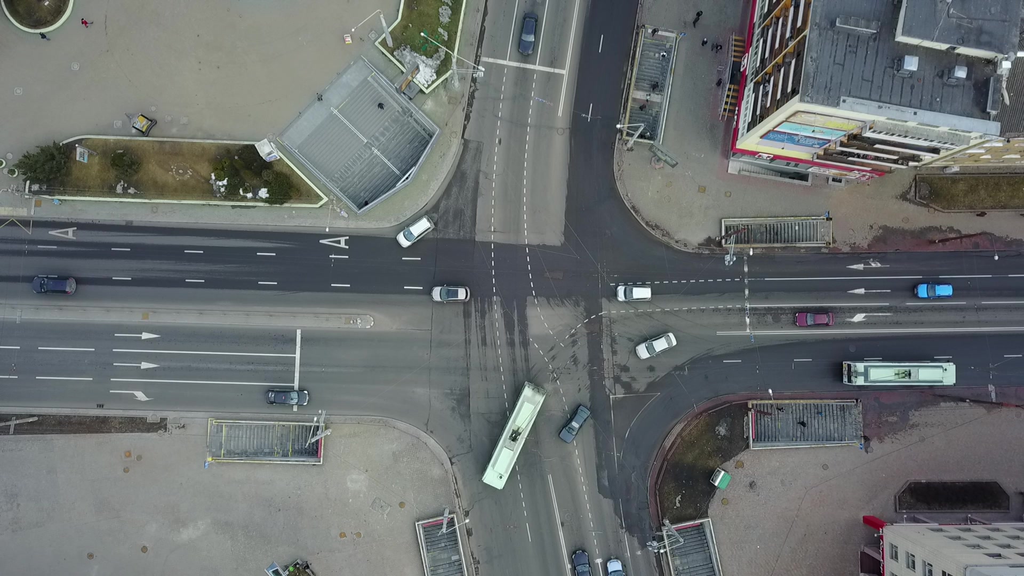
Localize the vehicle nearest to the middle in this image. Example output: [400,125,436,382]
[432,283,470,303]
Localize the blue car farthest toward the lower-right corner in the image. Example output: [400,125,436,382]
[912,281,952,299]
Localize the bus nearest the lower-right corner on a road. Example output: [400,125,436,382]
[841,358,956,386]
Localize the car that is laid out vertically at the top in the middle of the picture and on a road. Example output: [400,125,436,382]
[518,13,537,56]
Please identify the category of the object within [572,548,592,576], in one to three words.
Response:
car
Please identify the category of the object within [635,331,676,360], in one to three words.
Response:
car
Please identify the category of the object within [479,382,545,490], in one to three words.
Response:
bus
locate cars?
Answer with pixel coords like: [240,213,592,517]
[794,309,834,328]
[397,215,434,248]
[518,13,537,56]
[572,548,592,576]
[432,283,470,303]
[266,387,311,407]
[635,331,676,360]
[912,281,952,299]
[616,283,651,302]
[560,405,590,443]
[606,556,626,576]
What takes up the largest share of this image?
paved ground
